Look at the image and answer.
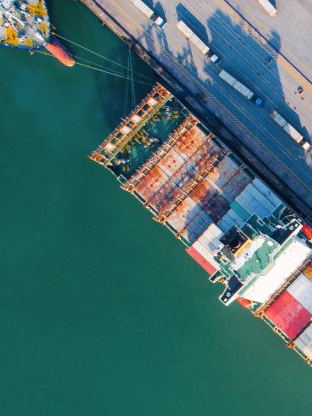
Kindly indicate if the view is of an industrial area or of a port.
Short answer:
port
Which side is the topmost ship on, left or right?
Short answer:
left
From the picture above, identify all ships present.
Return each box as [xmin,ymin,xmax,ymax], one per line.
[0,0,75,64]
[88,83,312,346]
